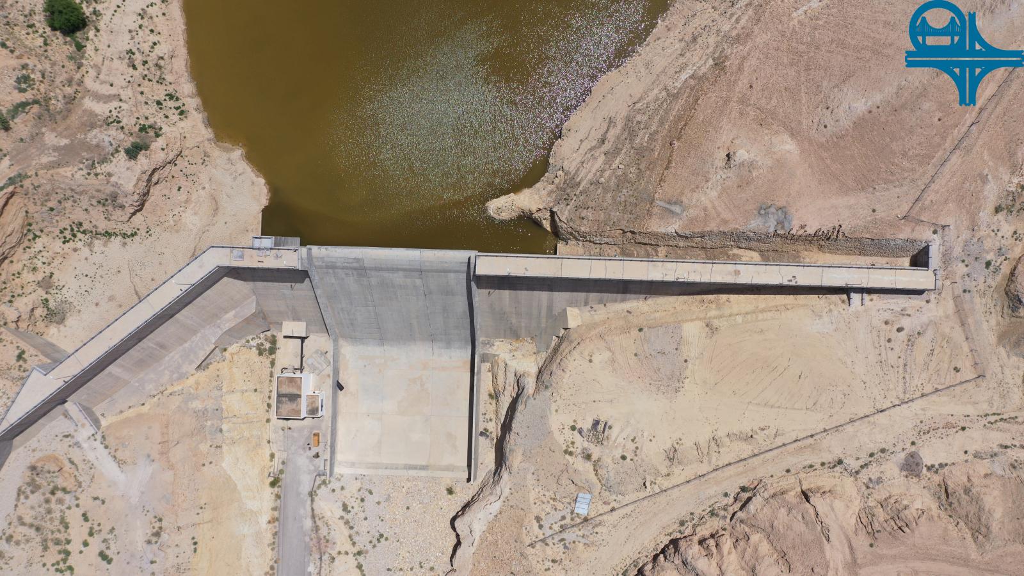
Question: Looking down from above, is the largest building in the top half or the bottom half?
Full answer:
The largest building sits in the bottom half of the picture.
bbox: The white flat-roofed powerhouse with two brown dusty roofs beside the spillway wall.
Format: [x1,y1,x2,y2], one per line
[275,371,326,419]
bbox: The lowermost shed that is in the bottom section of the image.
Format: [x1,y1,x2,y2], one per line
[574,491,592,513]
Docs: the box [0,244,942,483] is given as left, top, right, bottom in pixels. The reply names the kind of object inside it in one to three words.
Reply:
dam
